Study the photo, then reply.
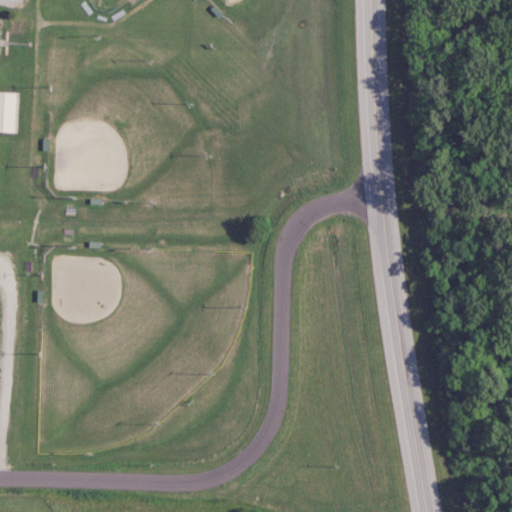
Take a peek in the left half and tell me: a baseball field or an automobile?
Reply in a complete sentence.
There is a baseball field in the left half.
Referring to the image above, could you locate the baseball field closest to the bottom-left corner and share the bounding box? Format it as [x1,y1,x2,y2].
[39,247,252,454]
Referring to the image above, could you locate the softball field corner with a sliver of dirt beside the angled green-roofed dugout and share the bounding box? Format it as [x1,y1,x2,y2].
[211,0,290,52]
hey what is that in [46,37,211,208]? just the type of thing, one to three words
baseball field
